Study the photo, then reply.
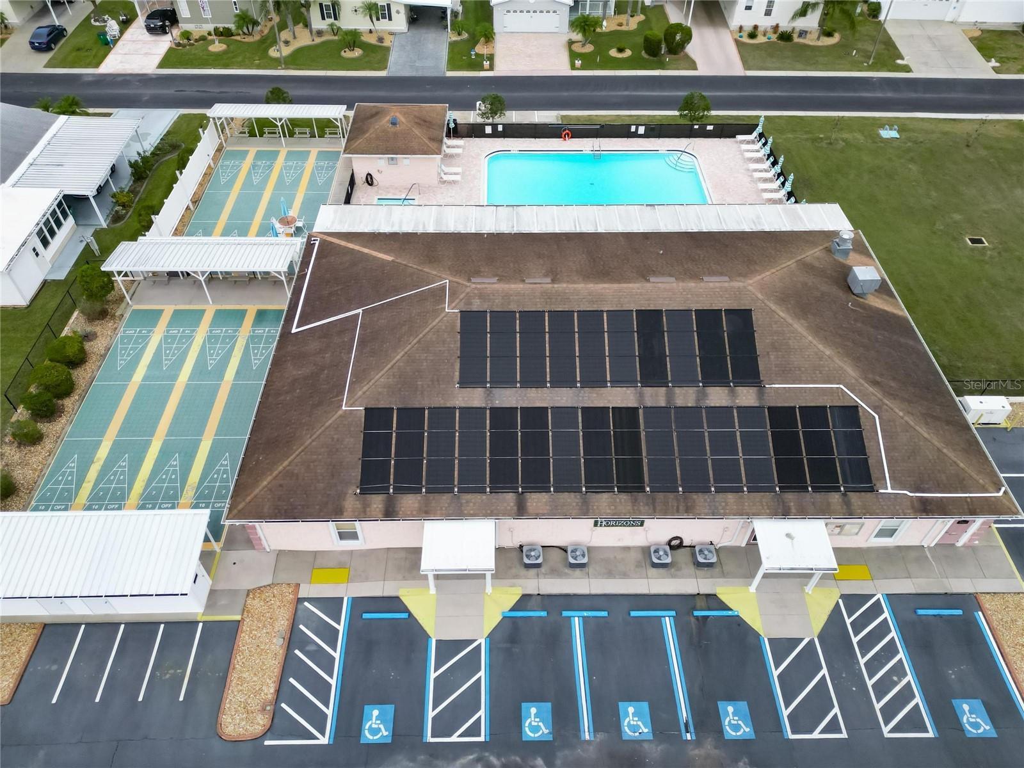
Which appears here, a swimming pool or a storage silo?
swimming pool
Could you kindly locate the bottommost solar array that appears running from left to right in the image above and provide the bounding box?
[356,405,877,494]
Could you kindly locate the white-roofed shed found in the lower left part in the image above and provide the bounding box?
[0,508,223,624]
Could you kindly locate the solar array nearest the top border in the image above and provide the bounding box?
[455,309,764,387]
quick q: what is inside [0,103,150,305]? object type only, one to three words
house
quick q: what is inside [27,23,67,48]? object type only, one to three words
car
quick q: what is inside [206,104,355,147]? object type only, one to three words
building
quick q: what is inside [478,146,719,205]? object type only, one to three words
swimming pool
